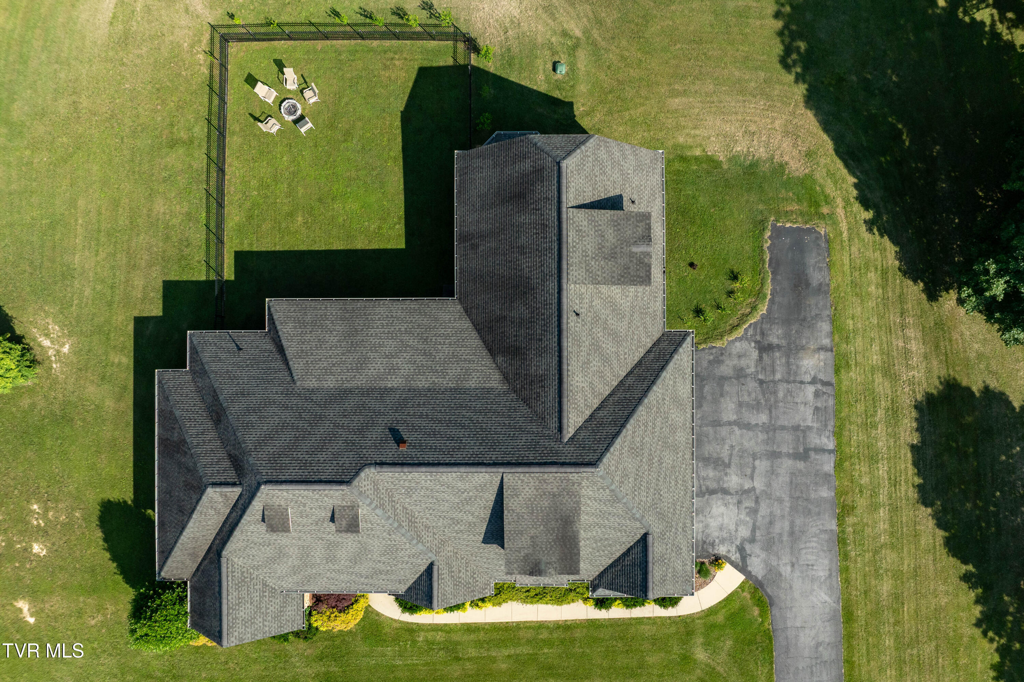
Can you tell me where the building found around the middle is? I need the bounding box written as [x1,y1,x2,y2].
[155,130,695,647]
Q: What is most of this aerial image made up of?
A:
grass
